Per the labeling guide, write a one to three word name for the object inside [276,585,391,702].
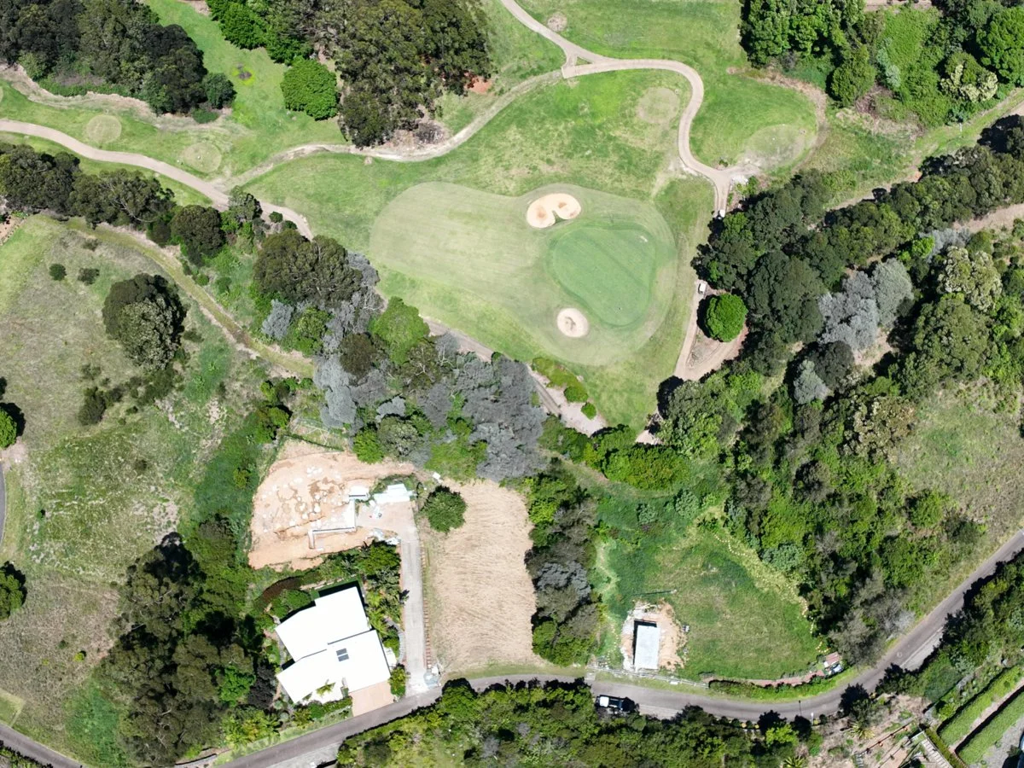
house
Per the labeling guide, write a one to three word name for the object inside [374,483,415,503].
shed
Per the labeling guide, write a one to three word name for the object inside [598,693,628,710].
vehicle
